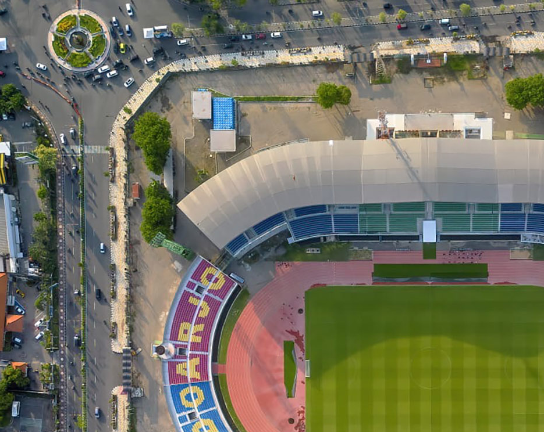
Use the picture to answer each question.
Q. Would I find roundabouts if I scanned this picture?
Yes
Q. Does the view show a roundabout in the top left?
Yes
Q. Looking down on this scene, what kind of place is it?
sports ground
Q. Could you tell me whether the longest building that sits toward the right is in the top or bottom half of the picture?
top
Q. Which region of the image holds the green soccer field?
bottom right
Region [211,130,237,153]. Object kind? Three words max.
shed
